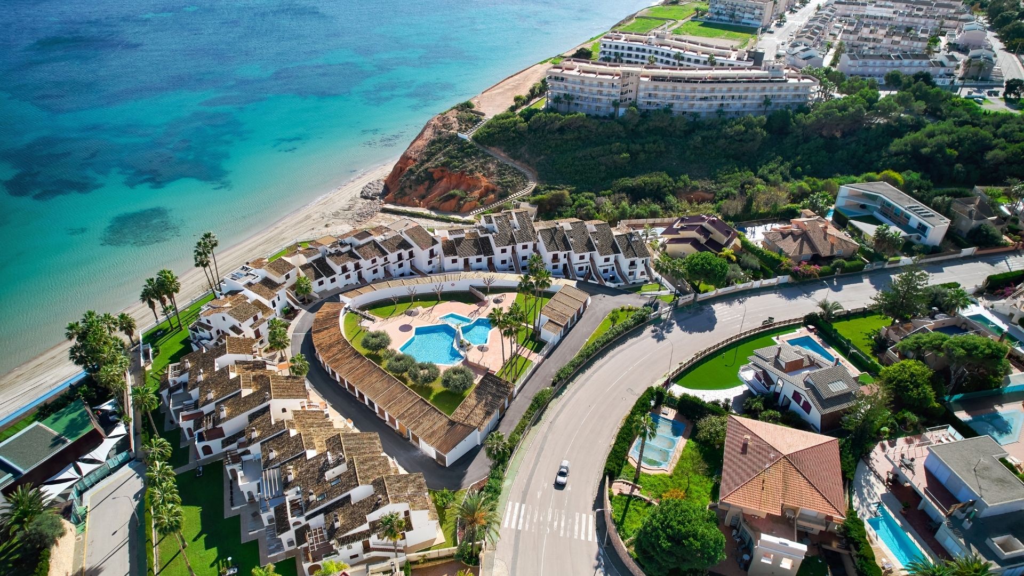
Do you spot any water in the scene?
Yes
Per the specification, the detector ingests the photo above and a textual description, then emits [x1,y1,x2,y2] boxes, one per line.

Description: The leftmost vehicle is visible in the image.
[554,455,571,486]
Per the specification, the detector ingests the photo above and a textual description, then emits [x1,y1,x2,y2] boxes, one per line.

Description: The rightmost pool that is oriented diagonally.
[967,313,1024,353]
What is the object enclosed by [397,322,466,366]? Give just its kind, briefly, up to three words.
swimming pool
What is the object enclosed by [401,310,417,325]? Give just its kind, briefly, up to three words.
umbrella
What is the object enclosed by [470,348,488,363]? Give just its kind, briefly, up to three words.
umbrella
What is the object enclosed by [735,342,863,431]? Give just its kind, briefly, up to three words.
house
